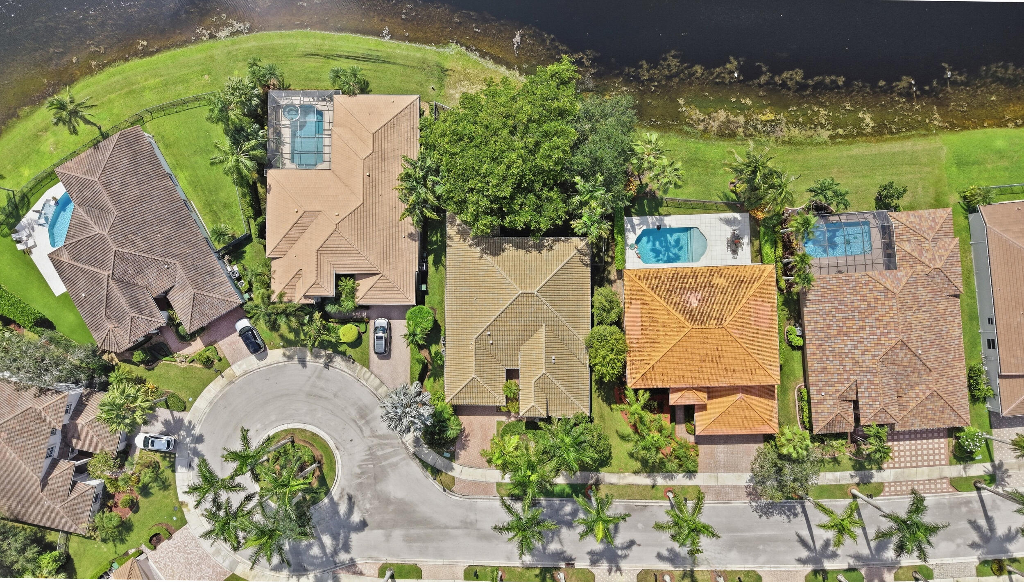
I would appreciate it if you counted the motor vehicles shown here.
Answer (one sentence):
I count 3 motor vehicles.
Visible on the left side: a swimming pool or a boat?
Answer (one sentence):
Visible on the left side is a swimming pool.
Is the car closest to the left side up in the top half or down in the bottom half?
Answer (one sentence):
The car closest to the left side sits in the bottom half of the picture.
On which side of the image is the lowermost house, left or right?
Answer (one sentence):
The lowermost house sits on the left side.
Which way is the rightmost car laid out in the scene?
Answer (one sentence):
I'd say the rightmost car is aligned up and down in the picture.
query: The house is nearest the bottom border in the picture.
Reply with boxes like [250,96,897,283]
[110,552,158,582]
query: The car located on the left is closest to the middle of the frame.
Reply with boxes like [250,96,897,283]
[371,317,391,355]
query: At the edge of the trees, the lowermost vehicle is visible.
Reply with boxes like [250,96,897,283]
[136,432,175,452]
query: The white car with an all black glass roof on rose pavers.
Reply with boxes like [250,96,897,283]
[236,318,266,356]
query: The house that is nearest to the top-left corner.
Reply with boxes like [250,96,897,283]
[46,125,248,354]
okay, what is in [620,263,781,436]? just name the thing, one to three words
house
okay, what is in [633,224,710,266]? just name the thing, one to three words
swimming pool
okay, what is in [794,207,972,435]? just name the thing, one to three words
house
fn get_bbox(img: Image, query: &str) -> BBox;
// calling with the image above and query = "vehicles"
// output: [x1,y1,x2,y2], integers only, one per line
[371,317,391,355]
[136,432,175,452]
[236,318,266,356]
